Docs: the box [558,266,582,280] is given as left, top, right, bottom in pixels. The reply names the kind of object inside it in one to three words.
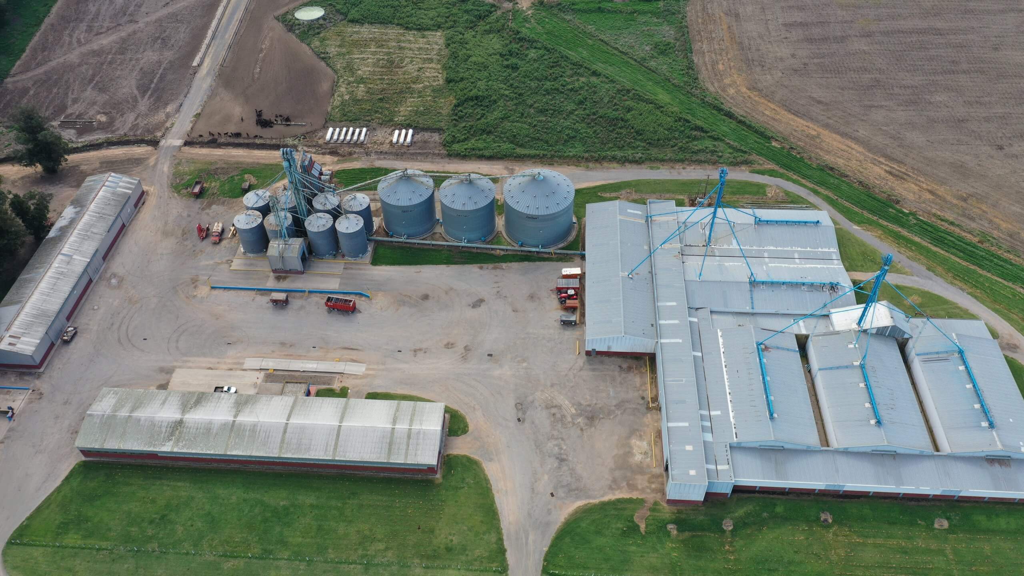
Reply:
camper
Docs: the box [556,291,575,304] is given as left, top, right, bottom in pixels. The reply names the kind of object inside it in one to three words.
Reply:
vehicle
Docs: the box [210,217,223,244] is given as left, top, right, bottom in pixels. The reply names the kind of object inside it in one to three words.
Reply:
vehicle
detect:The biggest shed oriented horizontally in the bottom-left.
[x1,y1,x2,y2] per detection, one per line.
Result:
[75,387,451,478]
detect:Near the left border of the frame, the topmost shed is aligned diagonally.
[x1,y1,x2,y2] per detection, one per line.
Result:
[0,172,149,373]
